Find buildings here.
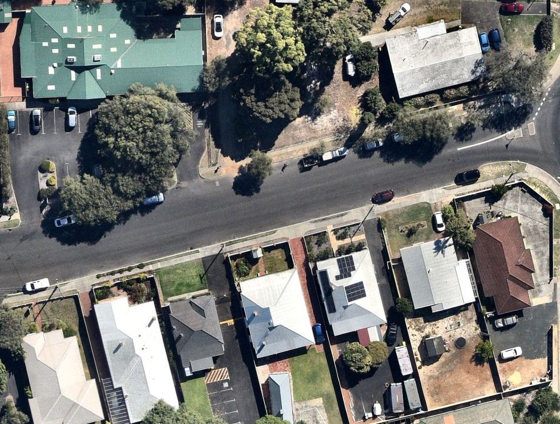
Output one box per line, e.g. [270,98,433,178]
[0,0,13,22]
[24,329,104,424]
[269,373,293,424]
[316,249,387,346]
[473,216,535,314]
[411,397,514,424]
[239,268,315,358]
[385,21,487,99]
[19,2,203,99]
[93,296,178,424]
[399,238,479,313]
[425,336,447,357]
[168,294,225,373]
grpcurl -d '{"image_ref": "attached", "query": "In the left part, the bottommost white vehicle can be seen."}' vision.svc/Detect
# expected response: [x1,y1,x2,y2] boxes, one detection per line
[26,278,50,291]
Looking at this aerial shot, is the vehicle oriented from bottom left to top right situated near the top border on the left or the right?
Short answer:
right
